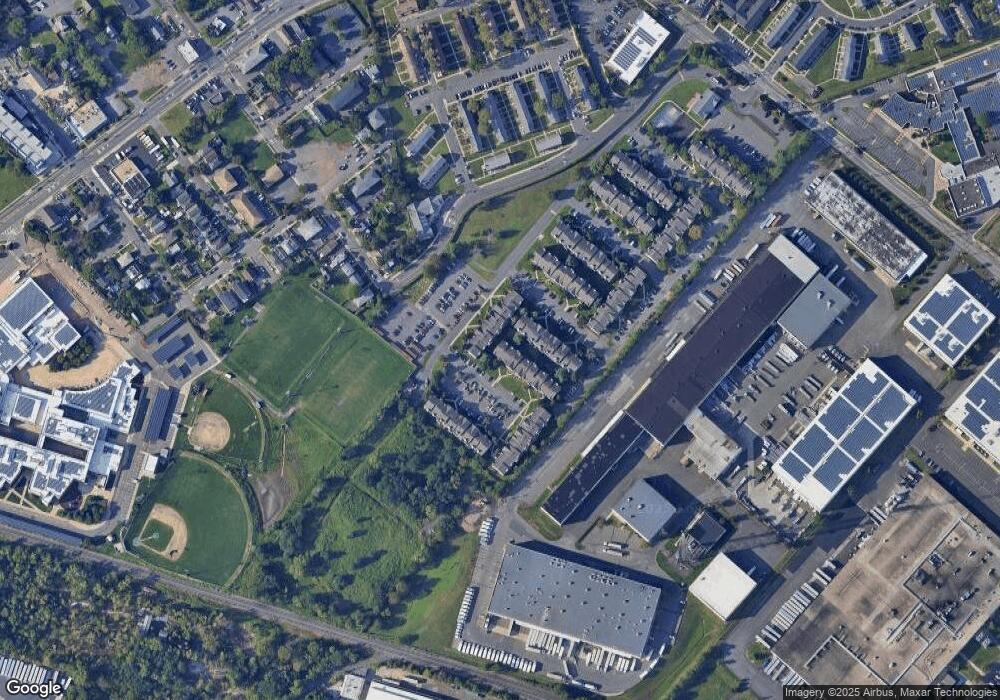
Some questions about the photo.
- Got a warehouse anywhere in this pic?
Yes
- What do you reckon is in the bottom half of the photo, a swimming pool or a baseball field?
baseball field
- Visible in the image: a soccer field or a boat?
soccer field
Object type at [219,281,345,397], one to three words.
soccer field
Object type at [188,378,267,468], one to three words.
baseball field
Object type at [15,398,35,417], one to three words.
solar array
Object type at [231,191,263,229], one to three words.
building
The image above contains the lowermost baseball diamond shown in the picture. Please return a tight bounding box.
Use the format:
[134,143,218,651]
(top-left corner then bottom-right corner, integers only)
[123,451,253,587]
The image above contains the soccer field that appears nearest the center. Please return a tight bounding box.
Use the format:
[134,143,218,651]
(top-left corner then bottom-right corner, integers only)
[287,316,413,446]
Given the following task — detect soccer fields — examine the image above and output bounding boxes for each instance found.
[287,316,413,446]
[219,281,345,397]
